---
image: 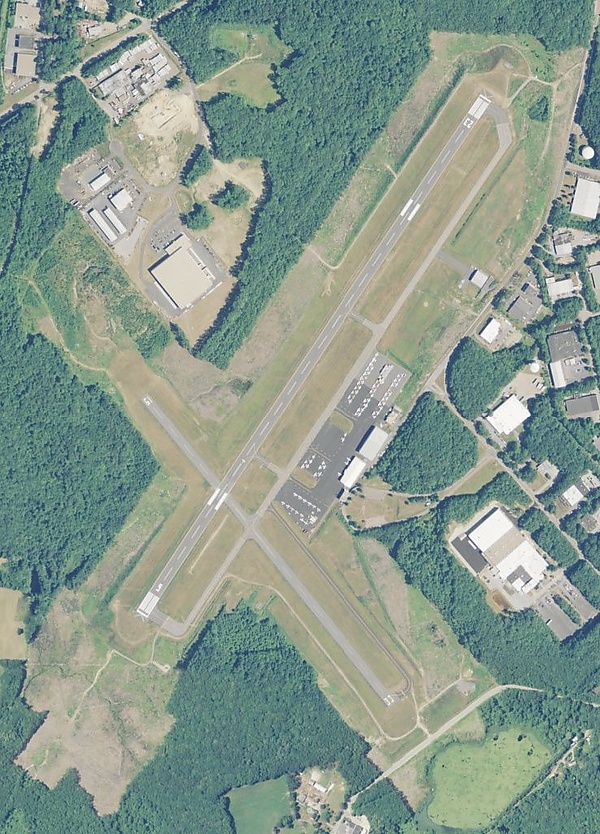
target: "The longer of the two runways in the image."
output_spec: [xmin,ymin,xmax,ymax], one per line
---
[137,94,491,617]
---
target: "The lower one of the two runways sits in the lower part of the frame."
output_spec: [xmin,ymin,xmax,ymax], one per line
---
[143,395,392,709]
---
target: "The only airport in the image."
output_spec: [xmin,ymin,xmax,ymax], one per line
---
[135,91,513,709]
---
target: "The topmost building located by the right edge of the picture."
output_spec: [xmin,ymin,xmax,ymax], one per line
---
[572,178,600,218]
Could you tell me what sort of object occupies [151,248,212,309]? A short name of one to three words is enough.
building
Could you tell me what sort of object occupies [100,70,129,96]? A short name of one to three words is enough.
shed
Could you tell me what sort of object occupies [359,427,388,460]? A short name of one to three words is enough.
hangar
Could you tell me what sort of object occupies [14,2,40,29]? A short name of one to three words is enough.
building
